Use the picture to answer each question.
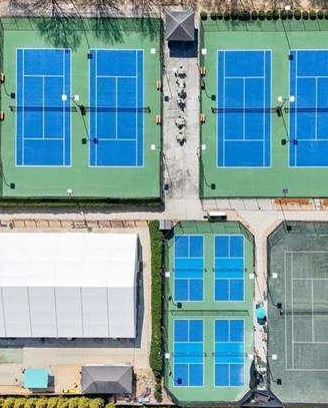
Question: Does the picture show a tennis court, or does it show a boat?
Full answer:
It is a tennis court that can be seen here.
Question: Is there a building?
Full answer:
Yes, I can see a building in this picture.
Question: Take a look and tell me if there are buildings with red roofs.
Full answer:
No, the scene contains no building with a red roof.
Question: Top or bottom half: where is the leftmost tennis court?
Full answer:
You can find the leftmost tennis court in the top half.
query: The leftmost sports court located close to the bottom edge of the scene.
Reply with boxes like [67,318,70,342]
[166,311,209,403]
